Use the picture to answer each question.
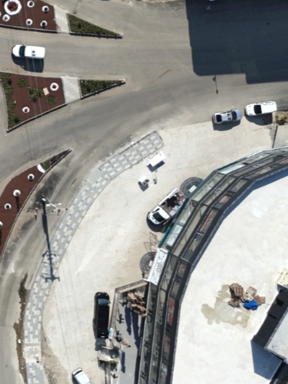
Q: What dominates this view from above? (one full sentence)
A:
The largest share of the image is taken up by paved ground.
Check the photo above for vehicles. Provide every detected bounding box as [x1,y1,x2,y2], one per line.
[11,44,46,60]
[93,293,112,338]
[70,369,90,384]
[243,100,279,117]
[210,109,242,125]
[150,189,187,224]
